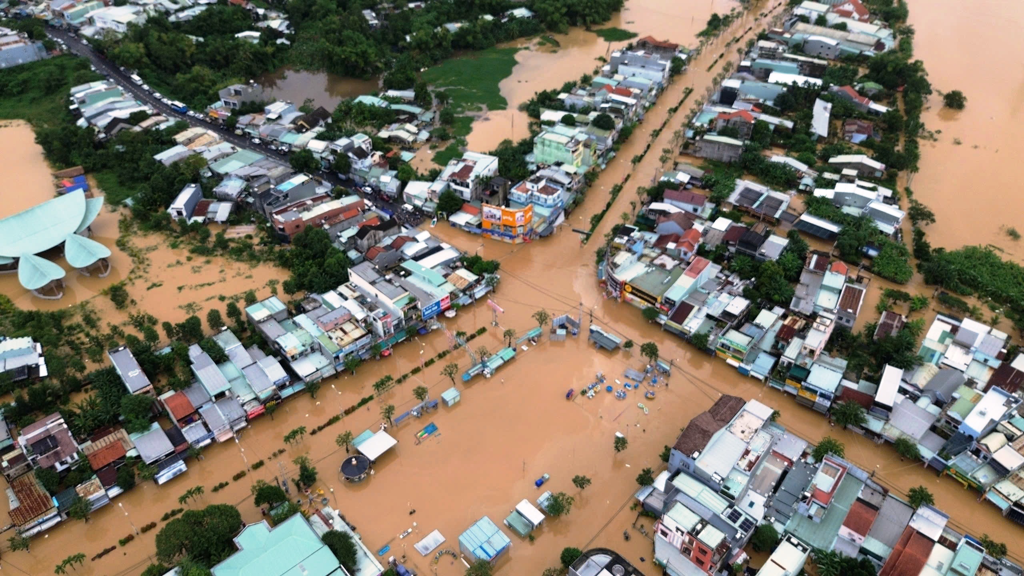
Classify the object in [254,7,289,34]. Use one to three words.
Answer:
house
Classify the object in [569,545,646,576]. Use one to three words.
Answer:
building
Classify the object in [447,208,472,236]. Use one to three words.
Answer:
building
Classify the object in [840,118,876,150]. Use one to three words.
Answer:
shed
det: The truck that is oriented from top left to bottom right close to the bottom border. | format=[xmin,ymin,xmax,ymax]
[390,551,415,576]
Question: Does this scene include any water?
Yes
